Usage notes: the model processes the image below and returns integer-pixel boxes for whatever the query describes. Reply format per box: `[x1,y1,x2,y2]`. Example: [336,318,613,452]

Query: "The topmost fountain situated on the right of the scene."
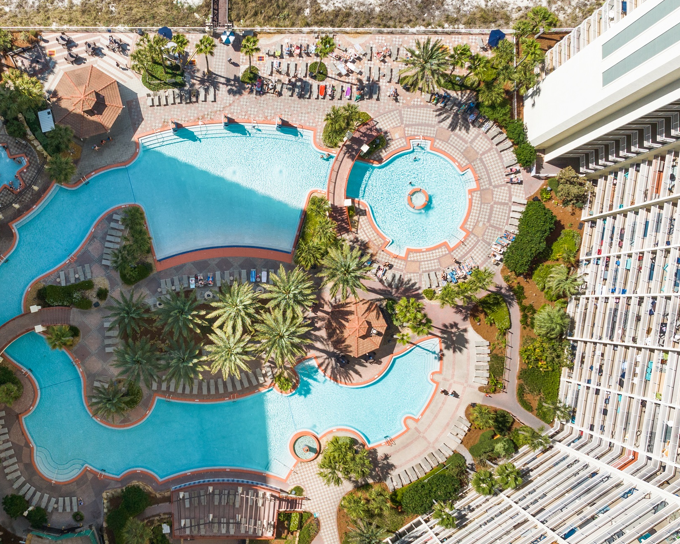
[407,187,430,209]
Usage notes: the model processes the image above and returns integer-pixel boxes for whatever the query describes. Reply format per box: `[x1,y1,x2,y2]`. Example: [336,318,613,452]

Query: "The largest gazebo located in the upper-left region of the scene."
[48,63,124,139]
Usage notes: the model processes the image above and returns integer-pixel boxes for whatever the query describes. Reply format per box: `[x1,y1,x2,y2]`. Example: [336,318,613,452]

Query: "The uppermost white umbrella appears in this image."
[221,31,235,46]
